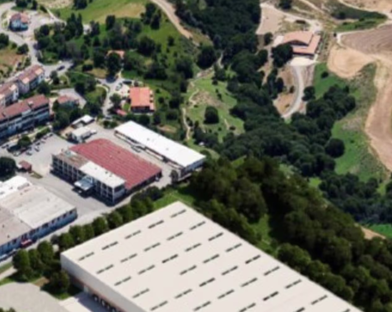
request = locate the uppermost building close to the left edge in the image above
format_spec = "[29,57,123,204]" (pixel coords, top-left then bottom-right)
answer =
[5,13,32,32]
